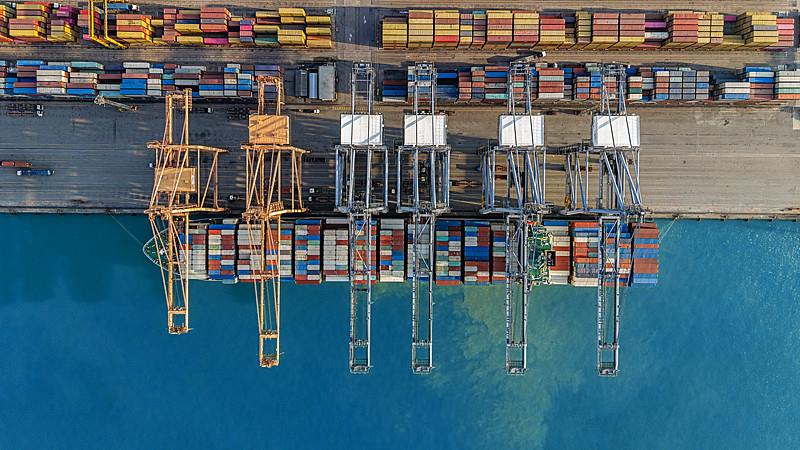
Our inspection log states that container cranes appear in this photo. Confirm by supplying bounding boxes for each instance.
[331,62,394,374]
[144,88,243,334]
[88,0,128,52]
[468,57,548,375]
[241,77,323,367]
[547,64,644,377]
[392,62,454,374]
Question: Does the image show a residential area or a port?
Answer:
port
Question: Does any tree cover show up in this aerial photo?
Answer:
No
